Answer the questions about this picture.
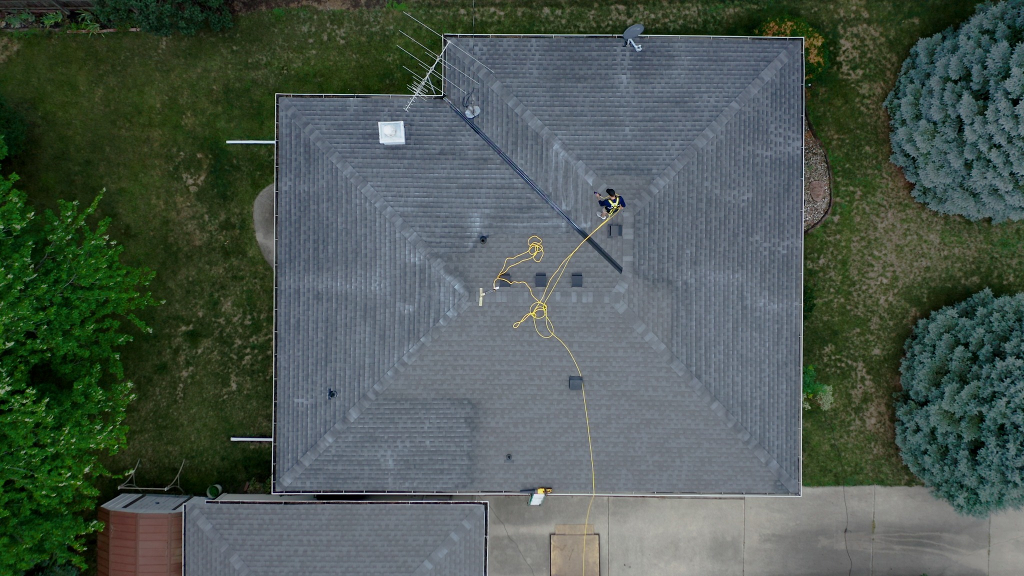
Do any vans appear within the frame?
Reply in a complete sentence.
No, I can see no van in this picture.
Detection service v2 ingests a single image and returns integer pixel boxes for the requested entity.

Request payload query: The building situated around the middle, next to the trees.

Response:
[226,36,804,497]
